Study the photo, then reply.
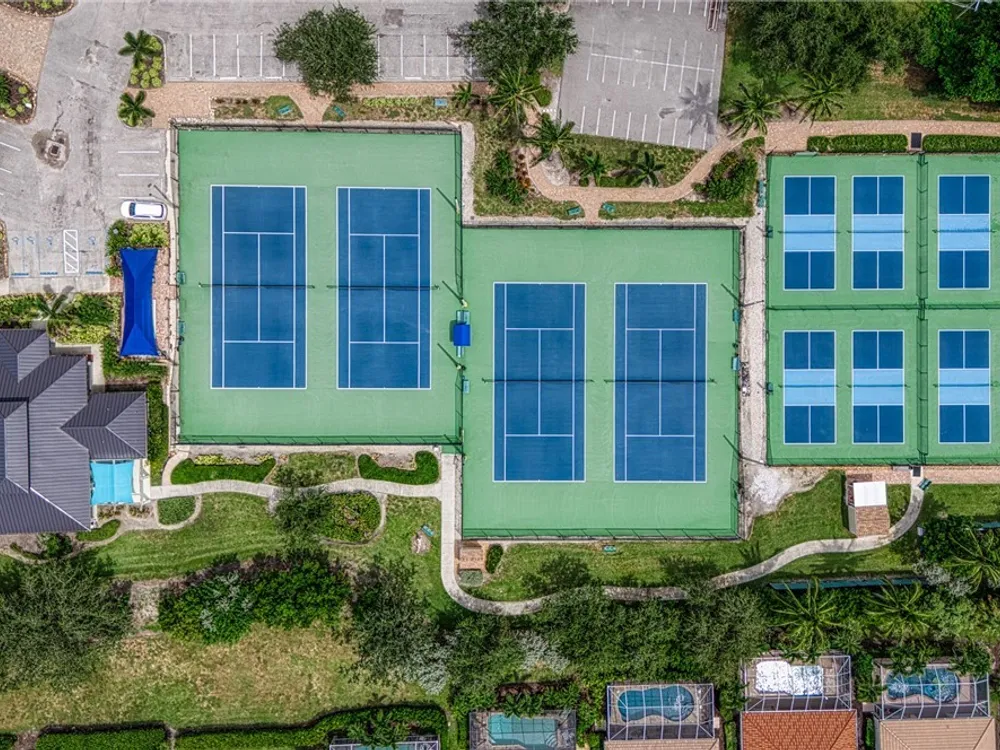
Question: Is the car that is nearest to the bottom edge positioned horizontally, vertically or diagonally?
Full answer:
The car that is nearest to the bottom edge has been laid out horizontally relative to the frame.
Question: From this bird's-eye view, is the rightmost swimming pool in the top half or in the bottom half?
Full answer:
You can find the rightmost swimming pool in the bottom half.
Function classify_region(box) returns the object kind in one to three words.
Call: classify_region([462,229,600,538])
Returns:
tennis court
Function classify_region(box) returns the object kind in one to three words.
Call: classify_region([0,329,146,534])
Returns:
building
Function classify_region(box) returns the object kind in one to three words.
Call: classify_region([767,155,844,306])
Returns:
sports court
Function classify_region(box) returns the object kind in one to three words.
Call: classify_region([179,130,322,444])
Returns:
tennis court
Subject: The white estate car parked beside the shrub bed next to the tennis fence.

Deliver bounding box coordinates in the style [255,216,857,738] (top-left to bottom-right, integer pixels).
[121,199,167,221]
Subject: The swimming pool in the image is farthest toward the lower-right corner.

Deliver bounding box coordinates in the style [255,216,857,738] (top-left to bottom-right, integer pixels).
[877,654,984,718]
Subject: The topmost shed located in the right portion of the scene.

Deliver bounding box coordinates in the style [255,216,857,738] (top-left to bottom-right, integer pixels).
[845,479,890,537]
